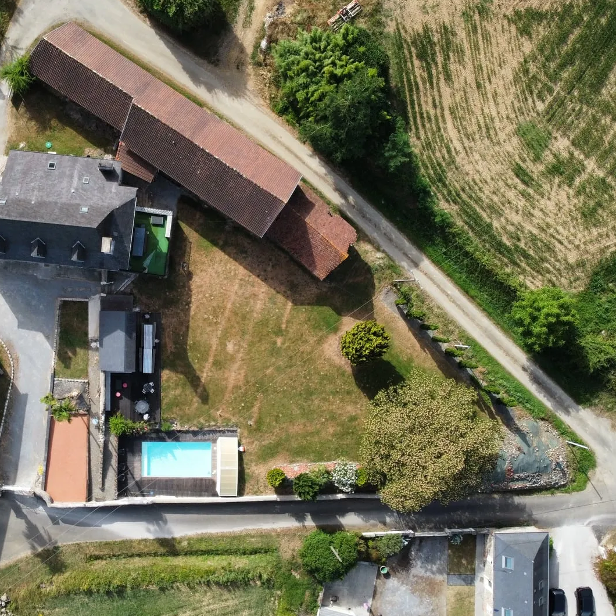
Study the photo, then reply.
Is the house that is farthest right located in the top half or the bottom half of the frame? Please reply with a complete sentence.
You can find the house that is farthest right in the bottom half.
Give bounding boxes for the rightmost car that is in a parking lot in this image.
[573,585,596,616]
